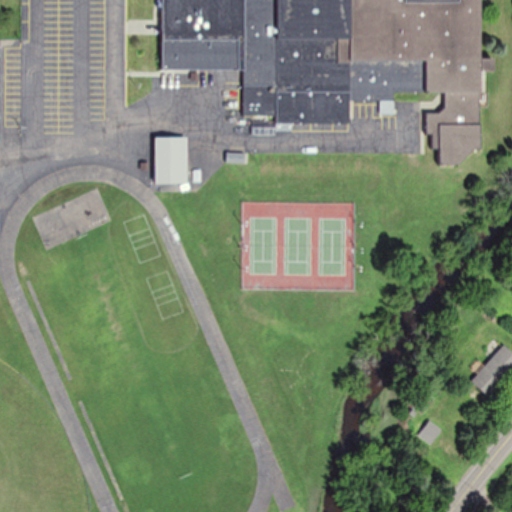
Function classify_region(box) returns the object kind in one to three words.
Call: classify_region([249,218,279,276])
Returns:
tennis court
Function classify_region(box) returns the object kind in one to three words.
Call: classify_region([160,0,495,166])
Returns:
building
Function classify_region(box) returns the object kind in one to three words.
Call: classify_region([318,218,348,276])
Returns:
tennis court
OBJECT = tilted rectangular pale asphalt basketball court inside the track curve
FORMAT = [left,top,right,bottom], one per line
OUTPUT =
[33,188,111,250]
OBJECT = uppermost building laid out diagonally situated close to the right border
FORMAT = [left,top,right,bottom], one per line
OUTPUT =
[472,344,512,393]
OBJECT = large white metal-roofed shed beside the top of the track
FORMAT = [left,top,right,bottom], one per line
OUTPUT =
[153,136,188,185]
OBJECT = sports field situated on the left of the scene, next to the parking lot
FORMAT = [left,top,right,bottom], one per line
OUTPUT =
[14,182,259,512]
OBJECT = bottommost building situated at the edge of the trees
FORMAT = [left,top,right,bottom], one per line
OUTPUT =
[418,420,442,446]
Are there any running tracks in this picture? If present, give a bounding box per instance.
[0,165,296,512]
